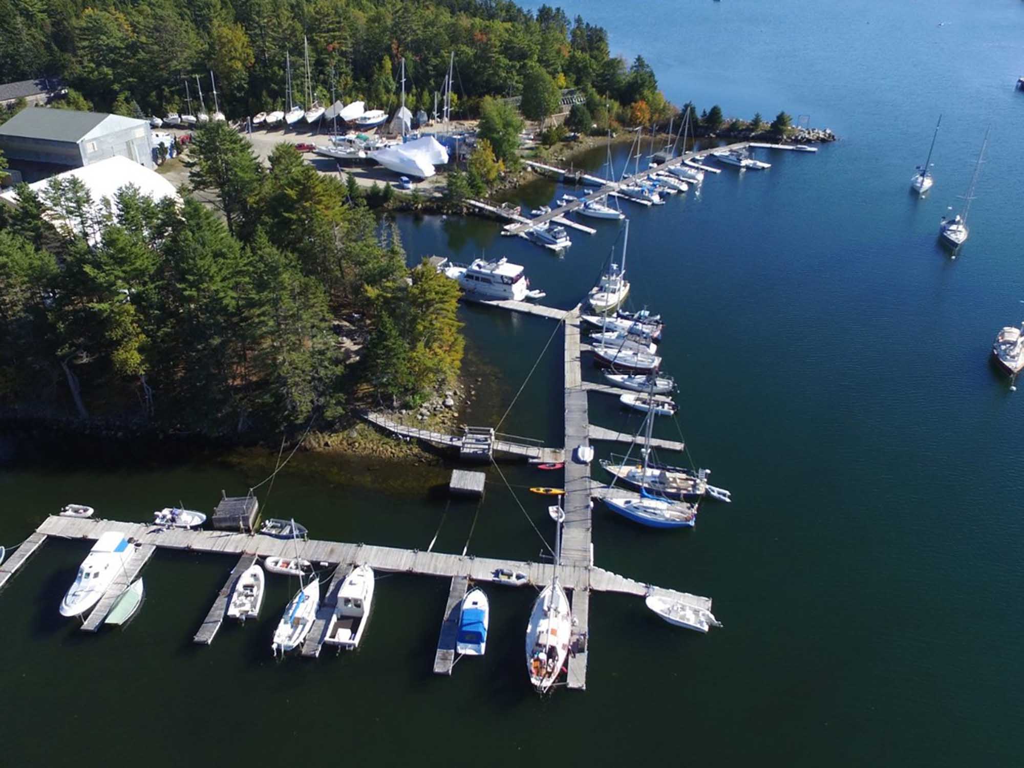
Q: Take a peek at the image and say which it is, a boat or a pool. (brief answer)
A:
boat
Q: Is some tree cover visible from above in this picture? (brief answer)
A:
Yes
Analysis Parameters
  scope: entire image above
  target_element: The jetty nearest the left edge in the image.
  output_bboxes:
[0,533,48,592]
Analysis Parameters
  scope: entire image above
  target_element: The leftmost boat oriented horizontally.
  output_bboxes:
[59,503,93,517]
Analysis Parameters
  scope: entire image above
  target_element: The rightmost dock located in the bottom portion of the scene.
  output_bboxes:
[646,586,712,614]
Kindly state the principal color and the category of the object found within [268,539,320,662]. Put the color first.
white boat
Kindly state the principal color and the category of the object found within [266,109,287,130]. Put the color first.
white boat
